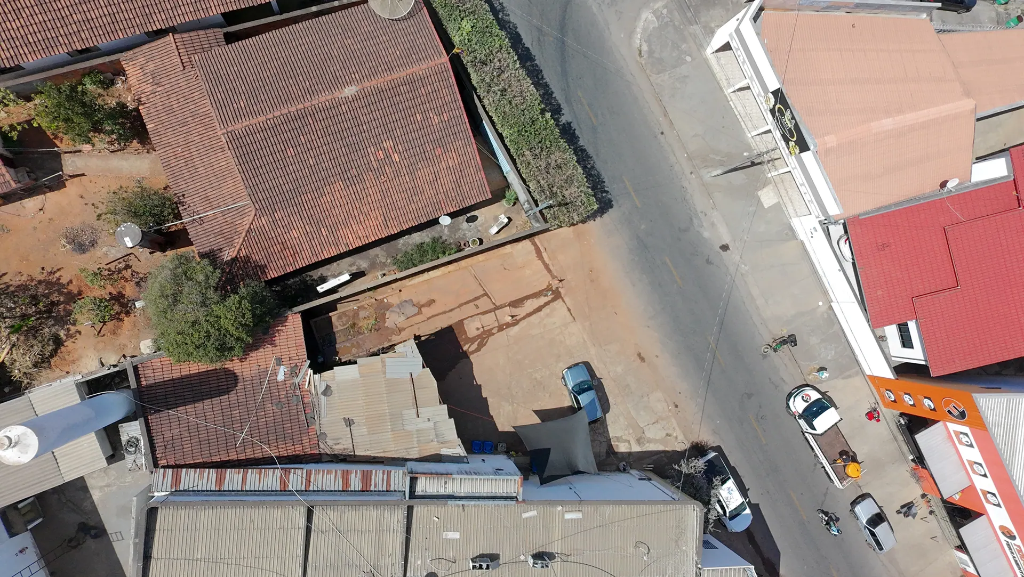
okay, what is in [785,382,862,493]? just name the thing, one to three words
truck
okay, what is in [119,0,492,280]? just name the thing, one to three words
house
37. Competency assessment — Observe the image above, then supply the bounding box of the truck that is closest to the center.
[561,361,606,429]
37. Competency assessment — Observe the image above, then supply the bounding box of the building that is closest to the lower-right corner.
[867,369,1024,577]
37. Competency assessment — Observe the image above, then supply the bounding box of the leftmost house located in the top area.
[0,157,41,203]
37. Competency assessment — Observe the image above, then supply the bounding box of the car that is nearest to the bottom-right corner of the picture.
[846,491,896,553]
